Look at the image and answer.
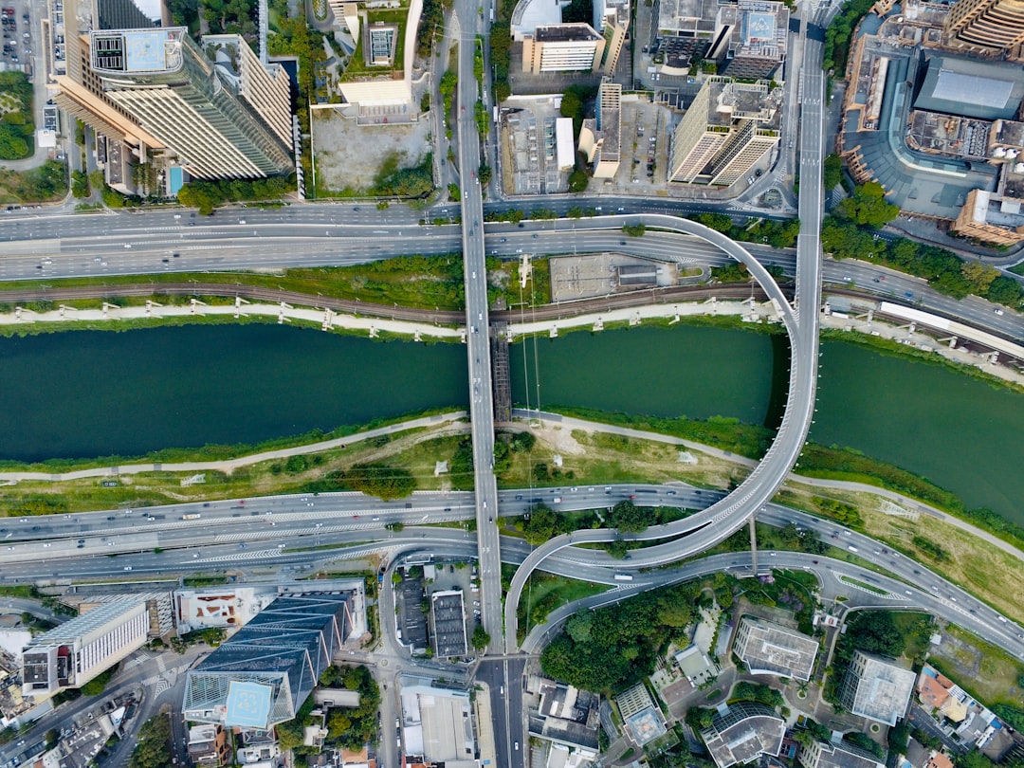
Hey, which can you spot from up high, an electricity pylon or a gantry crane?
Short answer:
electricity pylon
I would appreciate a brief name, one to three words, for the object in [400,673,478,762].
building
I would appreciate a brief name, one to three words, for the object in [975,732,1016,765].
house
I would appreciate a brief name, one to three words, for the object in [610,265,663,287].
shed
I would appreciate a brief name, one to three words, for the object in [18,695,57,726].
shed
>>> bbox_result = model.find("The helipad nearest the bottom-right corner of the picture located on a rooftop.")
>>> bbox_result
[628,708,662,743]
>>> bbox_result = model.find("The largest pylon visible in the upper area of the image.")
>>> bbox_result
[517,264,531,282]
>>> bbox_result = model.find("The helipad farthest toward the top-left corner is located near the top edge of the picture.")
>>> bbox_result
[127,31,167,69]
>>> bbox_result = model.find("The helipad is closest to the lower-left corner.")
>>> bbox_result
[226,680,272,727]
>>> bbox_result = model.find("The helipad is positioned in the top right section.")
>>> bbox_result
[748,13,775,39]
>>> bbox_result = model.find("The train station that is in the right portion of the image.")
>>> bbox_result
[872,304,1024,364]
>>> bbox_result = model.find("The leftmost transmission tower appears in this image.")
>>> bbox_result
[178,471,207,492]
